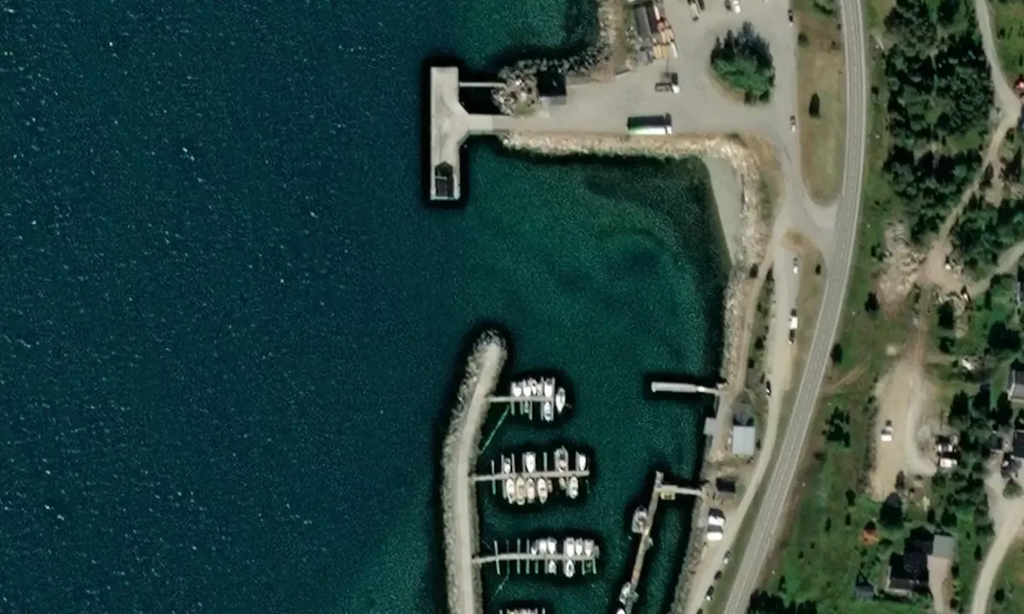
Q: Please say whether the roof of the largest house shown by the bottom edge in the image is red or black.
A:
black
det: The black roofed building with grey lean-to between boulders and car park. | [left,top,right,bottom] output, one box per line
[537,78,566,105]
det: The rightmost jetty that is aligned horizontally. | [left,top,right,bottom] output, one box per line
[651,381,719,394]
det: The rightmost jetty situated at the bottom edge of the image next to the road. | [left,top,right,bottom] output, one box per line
[625,471,703,614]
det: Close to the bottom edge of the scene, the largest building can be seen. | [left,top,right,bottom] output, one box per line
[885,538,933,596]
